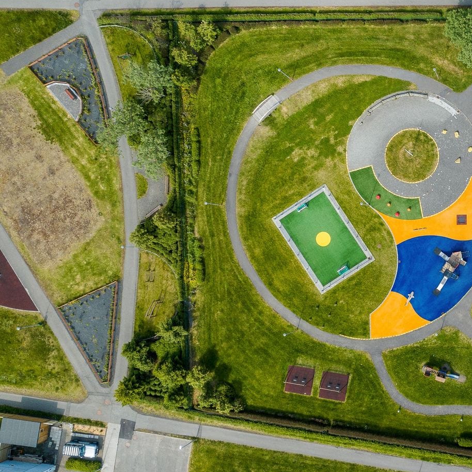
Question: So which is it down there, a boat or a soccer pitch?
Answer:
soccer pitch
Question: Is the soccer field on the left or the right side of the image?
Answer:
right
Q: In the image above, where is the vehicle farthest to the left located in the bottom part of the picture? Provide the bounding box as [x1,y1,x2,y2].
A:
[61,442,101,460]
